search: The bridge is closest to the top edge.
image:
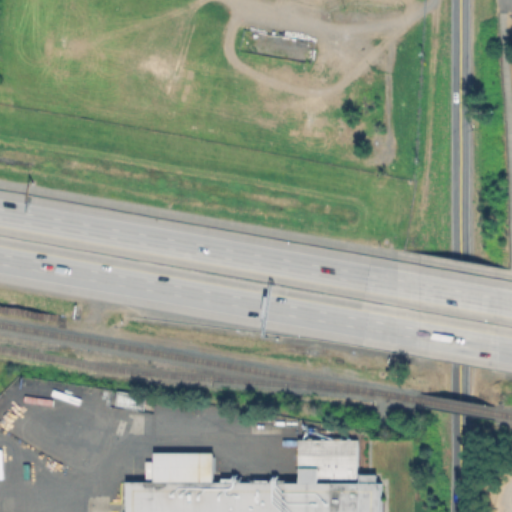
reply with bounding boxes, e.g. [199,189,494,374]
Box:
[386,250,512,374]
